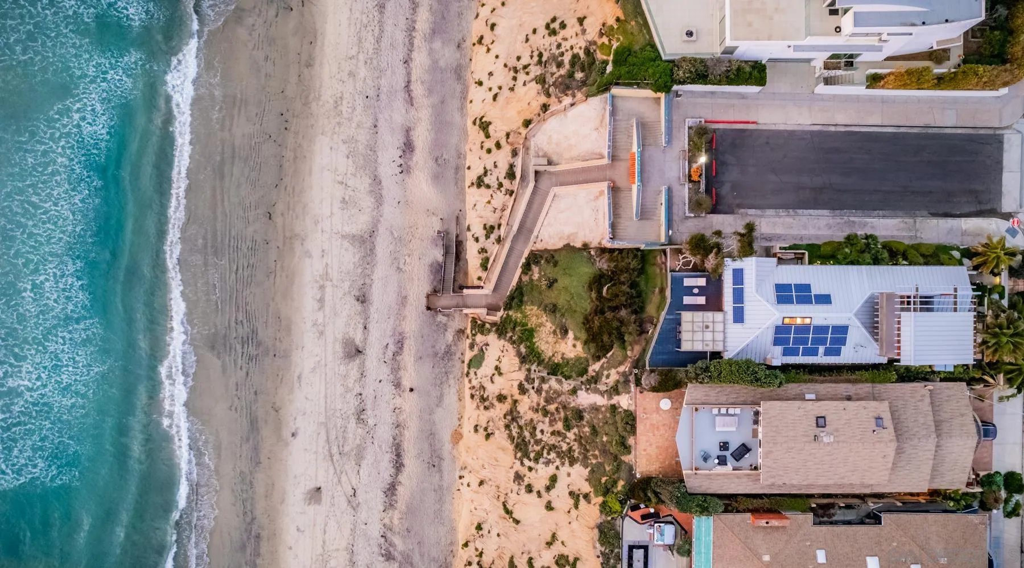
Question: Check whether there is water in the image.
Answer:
Yes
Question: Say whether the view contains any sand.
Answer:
Yes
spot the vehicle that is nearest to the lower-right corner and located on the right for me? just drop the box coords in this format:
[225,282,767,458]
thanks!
[979,420,996,441]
